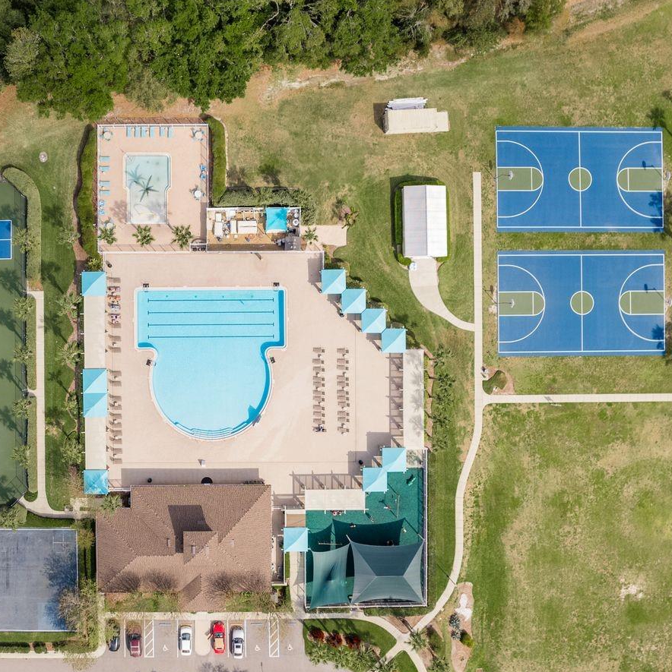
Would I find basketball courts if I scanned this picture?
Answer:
Yes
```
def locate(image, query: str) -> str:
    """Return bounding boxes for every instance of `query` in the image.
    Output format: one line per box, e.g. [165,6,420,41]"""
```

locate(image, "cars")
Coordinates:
[207,622,227,657]
[179,626,194,658]
[128,627,142,659]
[107,625,120,655]
[230,627,245,661]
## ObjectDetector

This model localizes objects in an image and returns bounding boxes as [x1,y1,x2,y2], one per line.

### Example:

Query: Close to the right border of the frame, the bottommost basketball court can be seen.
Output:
[497,251,665,356]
